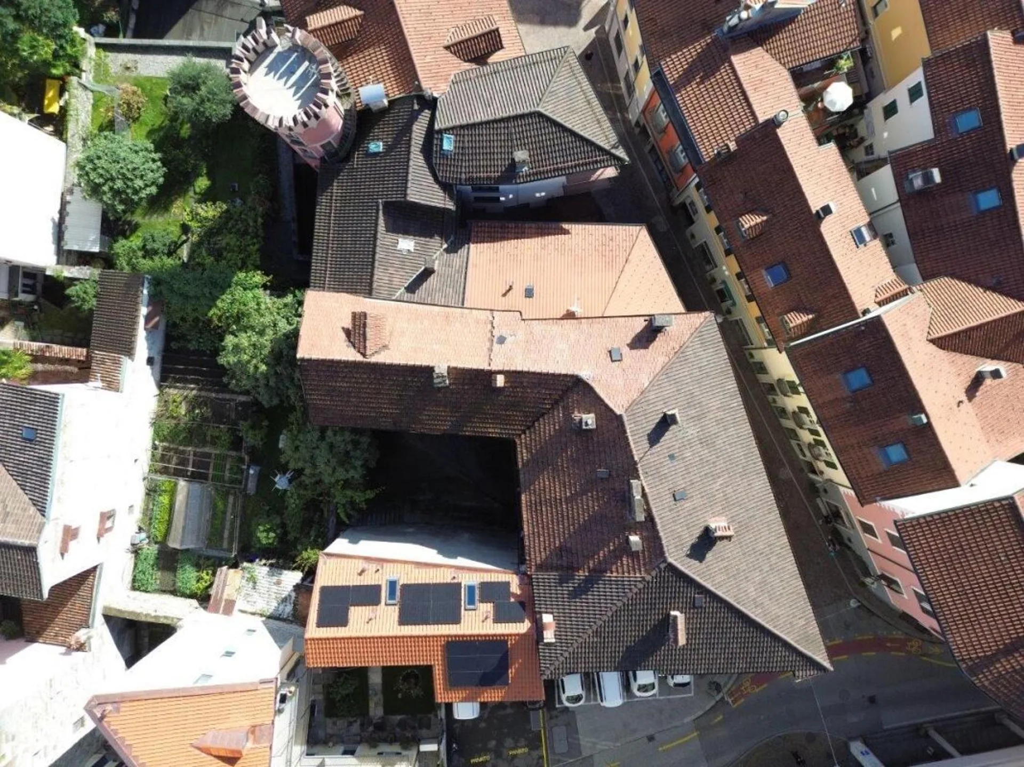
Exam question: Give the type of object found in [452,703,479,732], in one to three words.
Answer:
vehicle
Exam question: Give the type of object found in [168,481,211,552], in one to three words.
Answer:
greenhouse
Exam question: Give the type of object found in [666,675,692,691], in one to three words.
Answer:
car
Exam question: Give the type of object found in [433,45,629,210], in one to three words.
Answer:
house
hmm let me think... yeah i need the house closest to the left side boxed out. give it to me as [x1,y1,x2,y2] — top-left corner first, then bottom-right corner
[0,109,64,265]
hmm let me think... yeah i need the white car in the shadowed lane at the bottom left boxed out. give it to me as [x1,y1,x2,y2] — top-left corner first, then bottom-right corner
[76,740,120,767]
